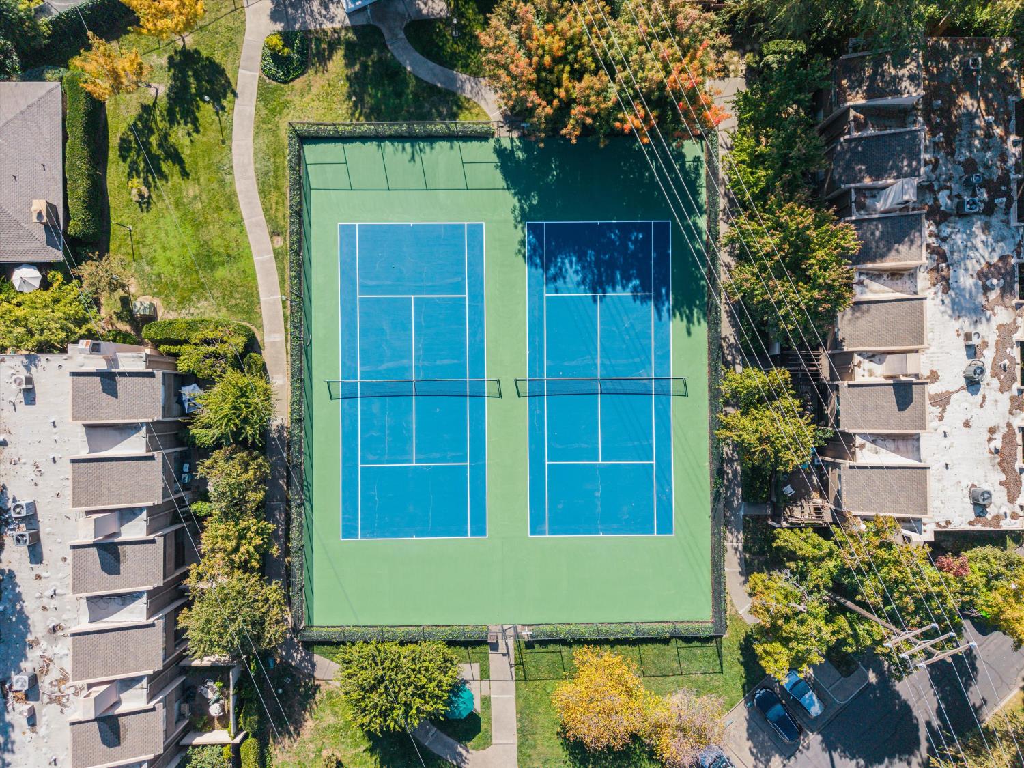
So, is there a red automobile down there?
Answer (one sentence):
No, I can see no red automobile in this picture.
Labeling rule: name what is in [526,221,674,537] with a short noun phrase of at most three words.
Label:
tennis court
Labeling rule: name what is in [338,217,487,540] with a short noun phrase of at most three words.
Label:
tennis court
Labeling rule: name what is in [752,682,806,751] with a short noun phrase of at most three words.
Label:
car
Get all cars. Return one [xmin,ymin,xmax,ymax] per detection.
[696,736,735,768]
[752,682,806,751]
[780,663,827,722]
